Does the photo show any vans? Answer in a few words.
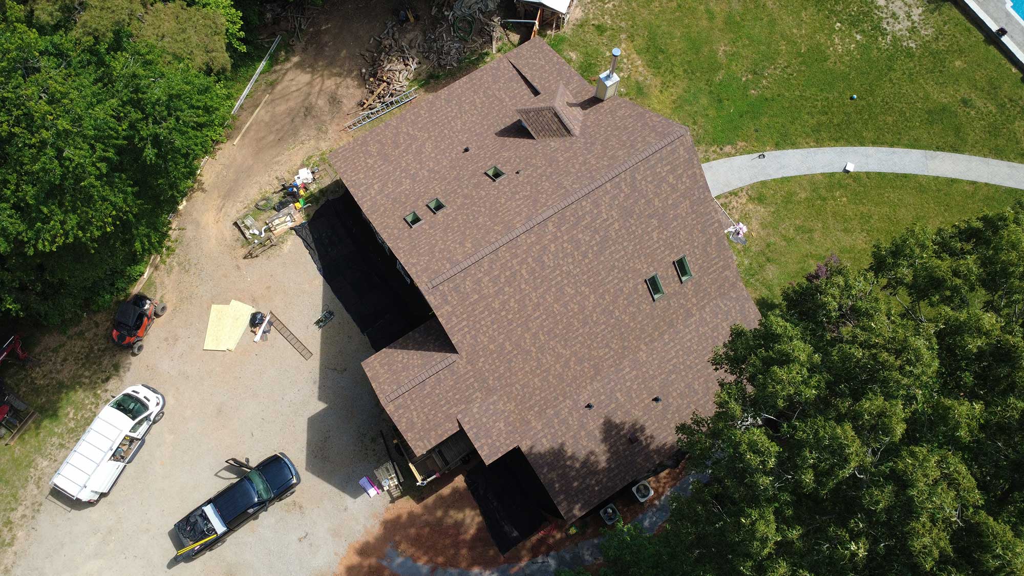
Yes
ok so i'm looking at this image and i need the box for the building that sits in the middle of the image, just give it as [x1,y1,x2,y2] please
[331,36,775,528]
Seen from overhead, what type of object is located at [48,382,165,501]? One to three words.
van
